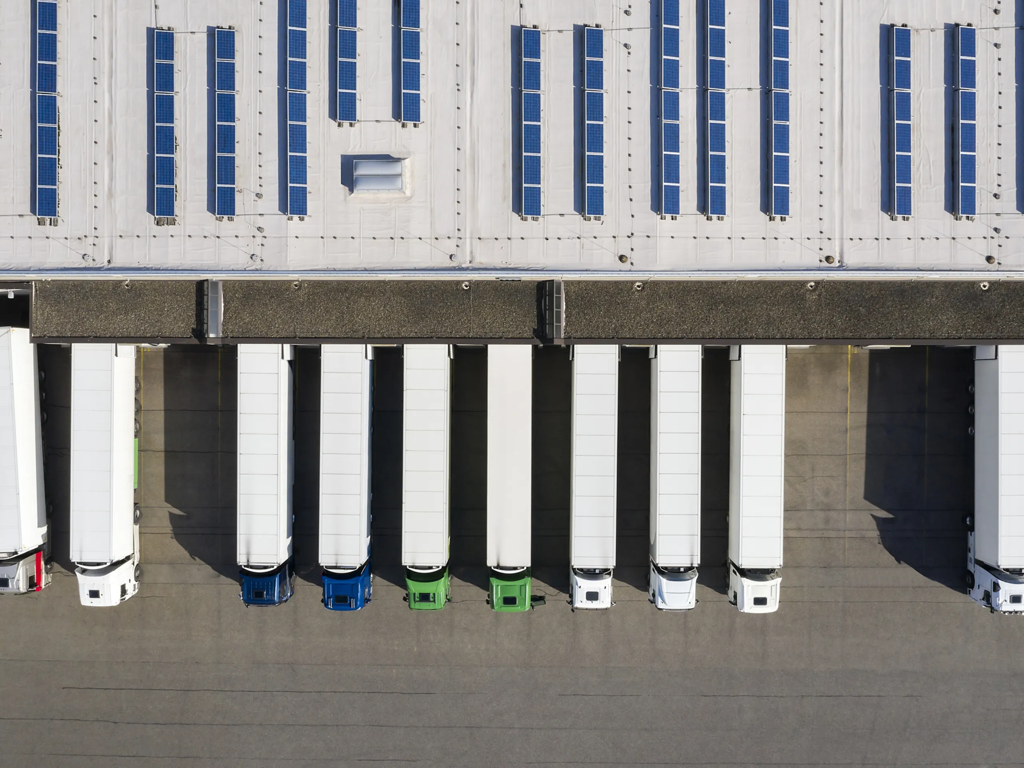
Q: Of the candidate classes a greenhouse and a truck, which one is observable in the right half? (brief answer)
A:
truck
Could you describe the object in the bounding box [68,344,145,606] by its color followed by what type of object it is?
white truck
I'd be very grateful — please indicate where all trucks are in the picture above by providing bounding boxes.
[234,344,298,610]
[0,324,59,594]
[723,344,788,614]
[484,344,545,613]
[566,344,622,617]
[645,344,705,613]
[400,344,454,612]
[68,344,145,606]
[317,344,376,612]
[962,344,1024,615]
